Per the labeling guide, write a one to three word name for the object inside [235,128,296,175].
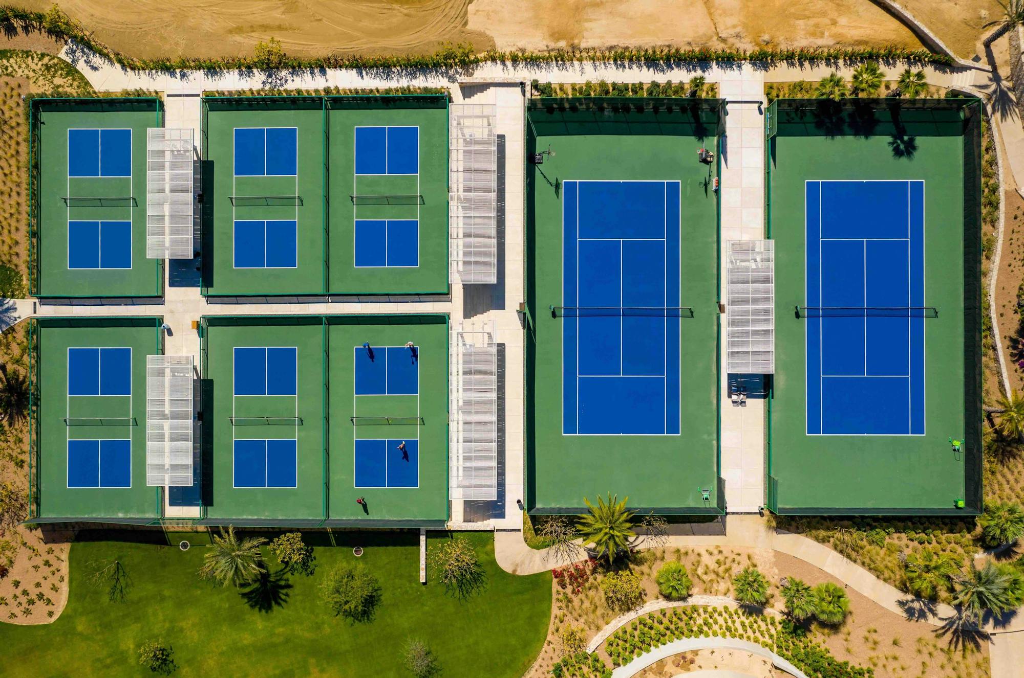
sports court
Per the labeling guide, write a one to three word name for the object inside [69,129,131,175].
sports court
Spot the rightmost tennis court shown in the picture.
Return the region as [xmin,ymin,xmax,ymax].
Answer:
[765,107,965,509]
